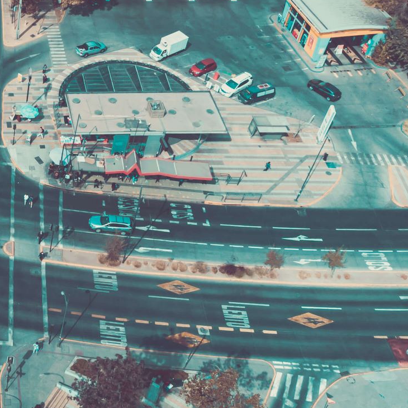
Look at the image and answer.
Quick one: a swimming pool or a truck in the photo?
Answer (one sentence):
The one in the frame is a truck.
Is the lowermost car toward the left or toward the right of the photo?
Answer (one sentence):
The lowermost car sits on the left side.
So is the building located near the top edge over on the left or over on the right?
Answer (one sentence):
The building located near the top edge is on the right side of the image.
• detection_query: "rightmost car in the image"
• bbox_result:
[306,79,343,102]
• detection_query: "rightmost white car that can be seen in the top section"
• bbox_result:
[220,72,253,95]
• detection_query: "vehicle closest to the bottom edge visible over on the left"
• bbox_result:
[90,212,133,235]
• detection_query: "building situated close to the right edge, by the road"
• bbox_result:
[283,0,392,65]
